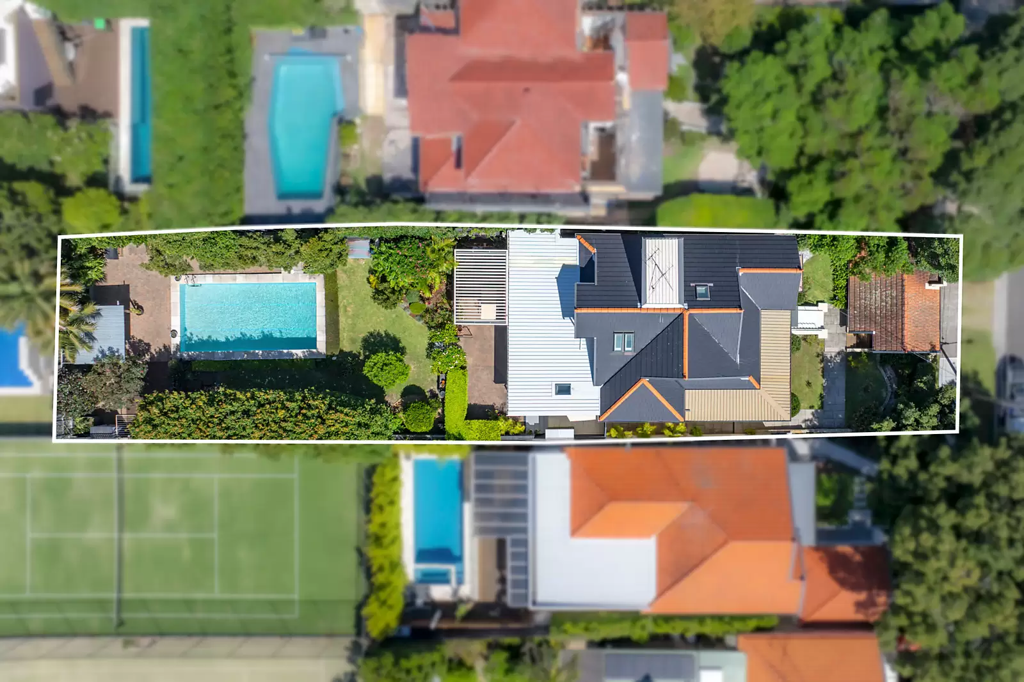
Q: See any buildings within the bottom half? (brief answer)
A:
Yes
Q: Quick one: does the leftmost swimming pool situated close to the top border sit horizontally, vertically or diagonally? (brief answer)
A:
vertically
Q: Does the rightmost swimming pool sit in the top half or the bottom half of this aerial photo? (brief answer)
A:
bottom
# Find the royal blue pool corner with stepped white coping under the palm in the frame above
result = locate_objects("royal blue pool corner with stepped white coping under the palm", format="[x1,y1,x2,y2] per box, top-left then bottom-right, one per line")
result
[0,295,42,394]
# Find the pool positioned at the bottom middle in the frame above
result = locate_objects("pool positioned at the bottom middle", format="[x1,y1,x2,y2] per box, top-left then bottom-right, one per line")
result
[401,453,475,600]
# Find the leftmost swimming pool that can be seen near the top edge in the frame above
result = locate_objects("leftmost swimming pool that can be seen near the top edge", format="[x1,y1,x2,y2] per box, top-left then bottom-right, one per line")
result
[119,18,151,192]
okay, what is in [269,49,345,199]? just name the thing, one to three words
swimming pool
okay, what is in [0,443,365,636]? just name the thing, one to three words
tennis court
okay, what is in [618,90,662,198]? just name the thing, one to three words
shed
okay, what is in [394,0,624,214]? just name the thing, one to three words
house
